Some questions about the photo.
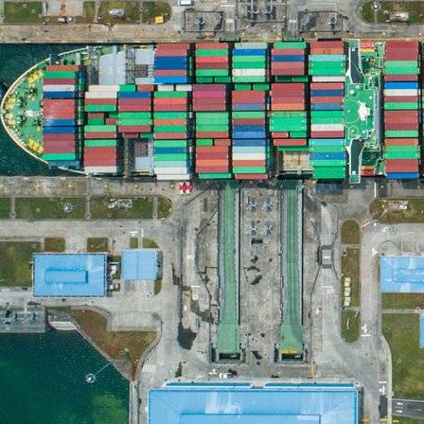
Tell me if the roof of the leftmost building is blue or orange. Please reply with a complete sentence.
The color of the roof of the leftmost building is blue.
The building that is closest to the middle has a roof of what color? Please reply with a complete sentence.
The roof over the building that is closest to the middle appears blue.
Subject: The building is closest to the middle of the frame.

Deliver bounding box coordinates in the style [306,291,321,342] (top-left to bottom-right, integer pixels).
[121,250,160,281]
